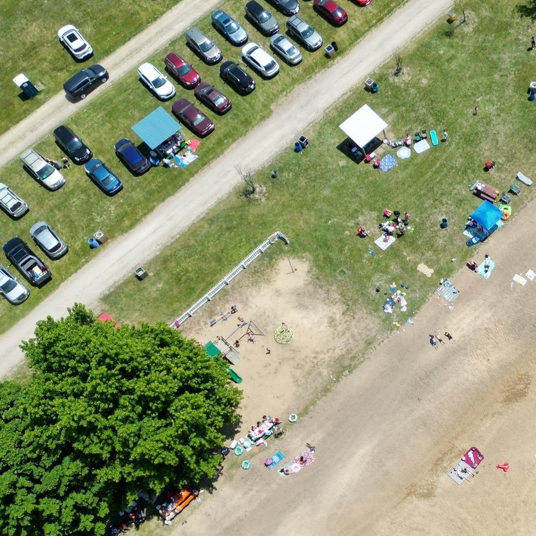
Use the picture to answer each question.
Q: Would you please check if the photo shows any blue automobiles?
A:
Yes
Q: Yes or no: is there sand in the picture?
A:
Yes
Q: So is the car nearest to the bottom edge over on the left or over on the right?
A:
left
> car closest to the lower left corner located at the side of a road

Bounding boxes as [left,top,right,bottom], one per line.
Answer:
[0,266,29,304]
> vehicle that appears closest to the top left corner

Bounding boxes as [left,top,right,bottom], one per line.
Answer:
[59,26,94,62]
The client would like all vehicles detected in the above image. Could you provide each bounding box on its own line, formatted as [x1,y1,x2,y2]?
[0,184,31,220]
[59,65,113,100]
[0,266,29,304]
[184,25,223,65]
[313,0,349,29]
[49,123,93,166]
[114,139,153,177]
[162,49,201,87]
[219,62,257,97]
[30,223,69,257]
[270,35,304,67]
[267,0,299,17]
[85,160,125,197]
[59,26,94,62]
[196,84,234,116]
[244,0,280,36]
[172,102,215,139]
[19,148,64,189]
[285,15,322,51]
[3,238,54,285]
[211,10,246,46]
[137,62,175,101]
[243,46,281,79]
